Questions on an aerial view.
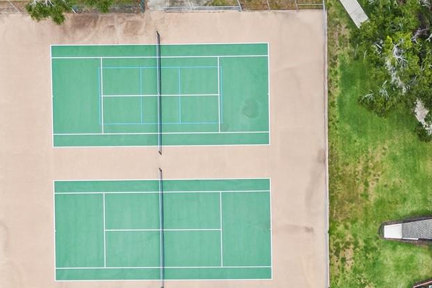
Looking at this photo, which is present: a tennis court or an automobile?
tennis court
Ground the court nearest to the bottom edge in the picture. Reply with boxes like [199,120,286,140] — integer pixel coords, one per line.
[54,168,272,288]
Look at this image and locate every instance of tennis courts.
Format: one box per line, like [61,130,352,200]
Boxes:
[50,32,270,154]
[54,168,272,288]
